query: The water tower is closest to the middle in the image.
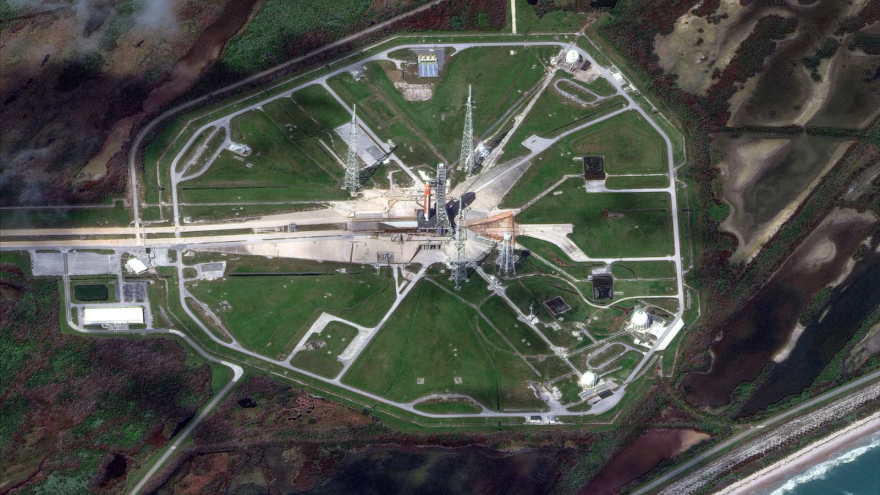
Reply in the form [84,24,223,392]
[498,229,516,278]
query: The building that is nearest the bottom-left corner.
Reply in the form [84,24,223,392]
[85,308,144,324]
